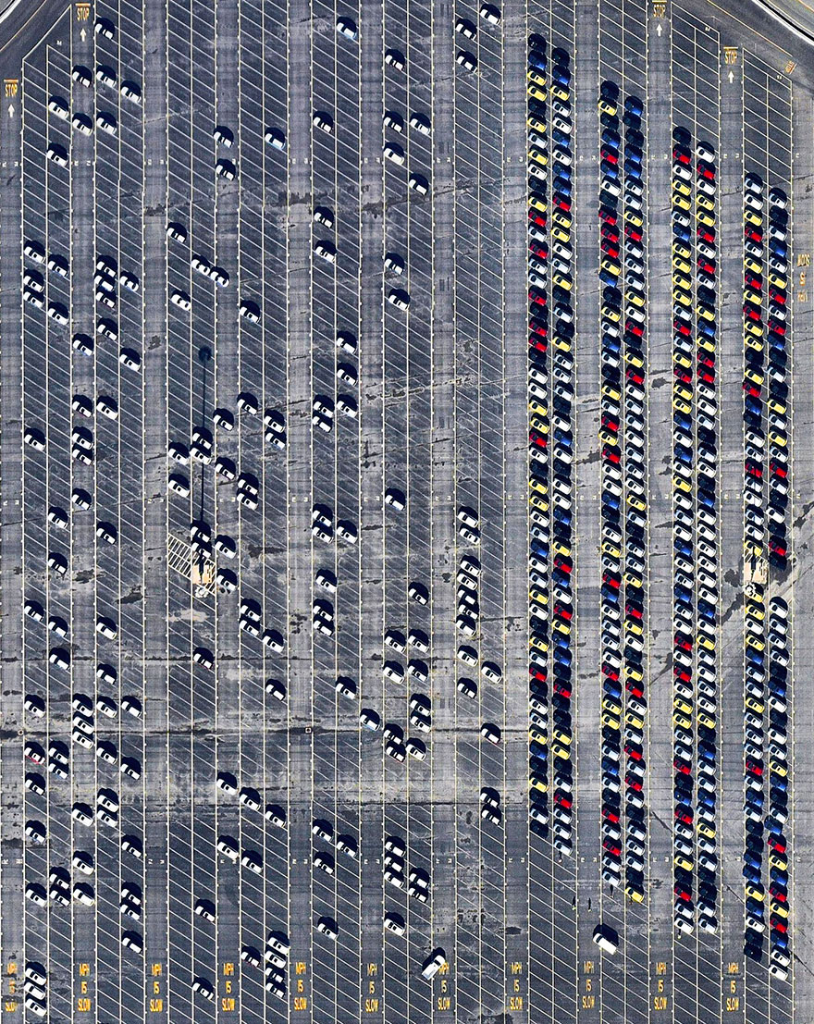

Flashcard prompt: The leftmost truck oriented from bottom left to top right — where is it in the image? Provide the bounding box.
[422,954,445,979]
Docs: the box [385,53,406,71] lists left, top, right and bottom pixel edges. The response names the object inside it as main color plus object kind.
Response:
white car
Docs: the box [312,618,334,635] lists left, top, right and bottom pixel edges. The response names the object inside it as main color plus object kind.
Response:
white car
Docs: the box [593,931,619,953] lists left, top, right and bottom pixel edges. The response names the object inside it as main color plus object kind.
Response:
white vehicle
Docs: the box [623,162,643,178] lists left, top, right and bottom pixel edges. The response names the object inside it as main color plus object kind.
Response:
blue car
